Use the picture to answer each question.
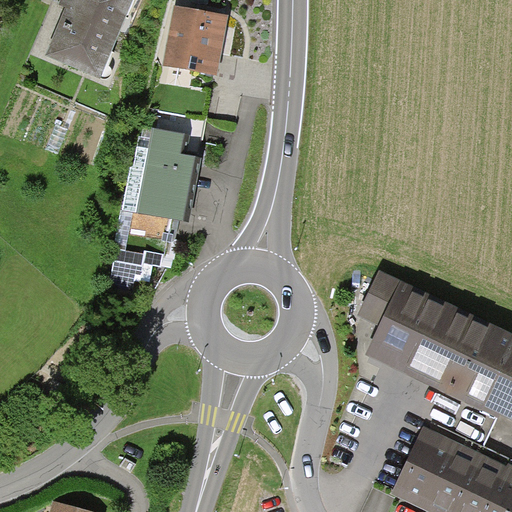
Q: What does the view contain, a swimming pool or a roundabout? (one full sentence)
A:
This aerial view contains a roundabout.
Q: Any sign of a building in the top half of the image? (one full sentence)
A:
Yes, in the top half of the image there is a building.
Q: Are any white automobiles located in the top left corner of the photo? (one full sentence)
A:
No, in the top left corner of the photo there is no white automobile.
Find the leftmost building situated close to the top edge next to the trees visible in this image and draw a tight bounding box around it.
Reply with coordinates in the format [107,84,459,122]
[46,0,135,79]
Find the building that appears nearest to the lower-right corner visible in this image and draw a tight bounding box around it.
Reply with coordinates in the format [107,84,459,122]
[390,426,512,512]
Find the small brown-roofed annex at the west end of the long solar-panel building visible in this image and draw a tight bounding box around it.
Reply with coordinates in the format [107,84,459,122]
[358,270,400,324]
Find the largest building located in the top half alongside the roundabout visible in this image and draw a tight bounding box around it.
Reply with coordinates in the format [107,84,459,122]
[138,128,202,221]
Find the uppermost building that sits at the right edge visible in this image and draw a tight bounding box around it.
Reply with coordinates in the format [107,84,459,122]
[366,280,512,428]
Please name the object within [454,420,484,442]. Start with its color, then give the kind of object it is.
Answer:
white truck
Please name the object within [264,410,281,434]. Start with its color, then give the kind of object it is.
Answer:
white car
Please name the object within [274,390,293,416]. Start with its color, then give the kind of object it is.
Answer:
white car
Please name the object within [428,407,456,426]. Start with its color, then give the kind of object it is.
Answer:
white vehicle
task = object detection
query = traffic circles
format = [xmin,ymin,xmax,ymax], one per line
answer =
[186,246,318,378]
